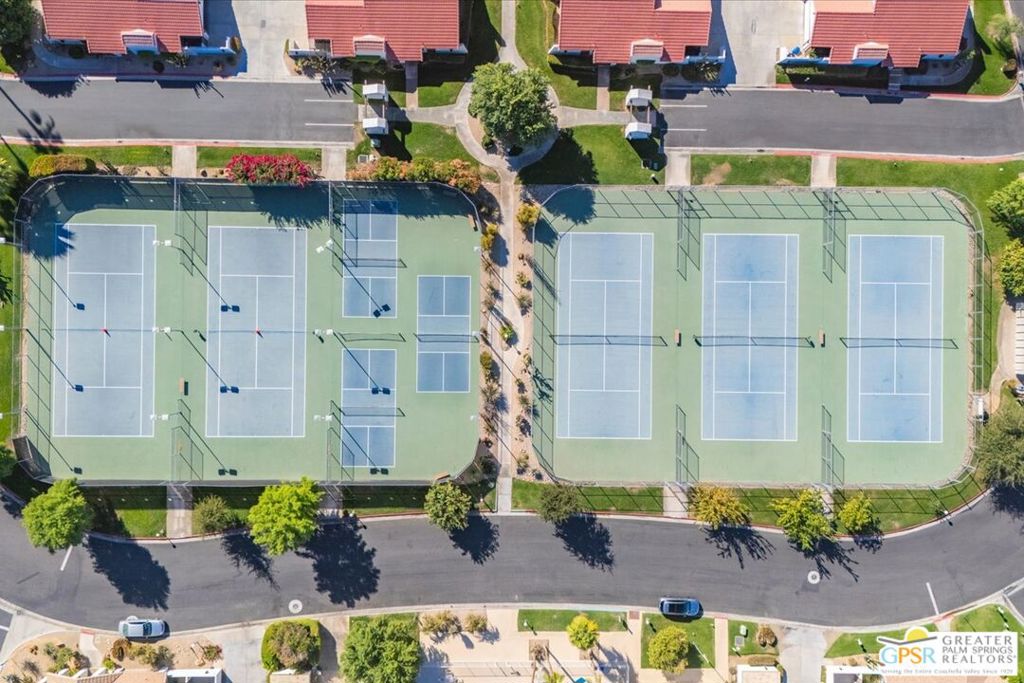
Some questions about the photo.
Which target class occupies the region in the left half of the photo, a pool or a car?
car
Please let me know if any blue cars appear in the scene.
Yes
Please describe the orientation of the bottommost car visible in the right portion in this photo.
horizontally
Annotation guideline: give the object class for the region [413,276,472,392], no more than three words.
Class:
sports court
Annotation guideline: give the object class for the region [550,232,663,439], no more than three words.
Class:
tennis court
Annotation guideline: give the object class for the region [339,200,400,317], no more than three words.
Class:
sports court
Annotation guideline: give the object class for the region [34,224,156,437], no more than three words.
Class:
tennis court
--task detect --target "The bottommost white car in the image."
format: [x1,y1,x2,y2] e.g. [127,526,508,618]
[119,618,161,639]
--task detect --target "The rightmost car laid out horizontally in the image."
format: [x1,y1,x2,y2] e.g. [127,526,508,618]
[660,597,702,618]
